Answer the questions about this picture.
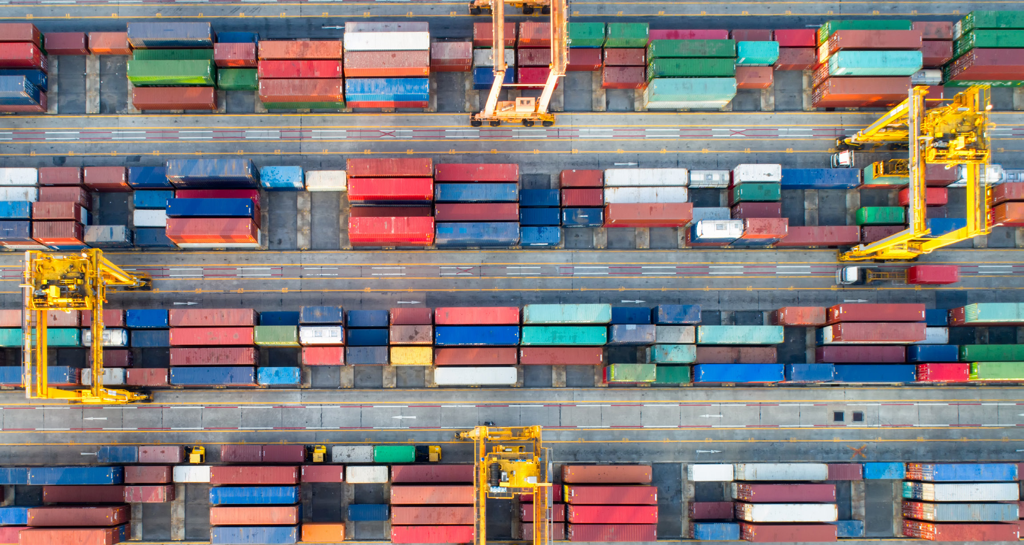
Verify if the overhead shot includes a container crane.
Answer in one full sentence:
Yes, you can see a container crane in this photo.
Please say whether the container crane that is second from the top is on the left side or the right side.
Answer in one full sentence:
The container crane that is second from the top is on the right side of the image.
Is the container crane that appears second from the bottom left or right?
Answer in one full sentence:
The container crane that appears second from the bottom appears in the left half of the scene.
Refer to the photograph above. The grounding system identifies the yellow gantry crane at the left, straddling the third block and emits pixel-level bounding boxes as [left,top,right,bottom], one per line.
[21,249,151,401]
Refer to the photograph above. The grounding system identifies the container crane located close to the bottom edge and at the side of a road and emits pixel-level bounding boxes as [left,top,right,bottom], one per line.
[453,427,557,545]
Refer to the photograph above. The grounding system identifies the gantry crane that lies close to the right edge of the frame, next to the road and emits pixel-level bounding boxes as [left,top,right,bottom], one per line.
[838,85,992,256]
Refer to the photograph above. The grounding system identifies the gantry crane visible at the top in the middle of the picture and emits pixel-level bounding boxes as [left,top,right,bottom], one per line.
[469,0,566,126]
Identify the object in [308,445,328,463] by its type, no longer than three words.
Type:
work vehicle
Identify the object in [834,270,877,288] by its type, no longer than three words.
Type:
vehicle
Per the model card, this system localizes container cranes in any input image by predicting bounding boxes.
[469,0,566,126]
[453,427,557,545]
[21,249,151,401]
[838,85,992,256]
